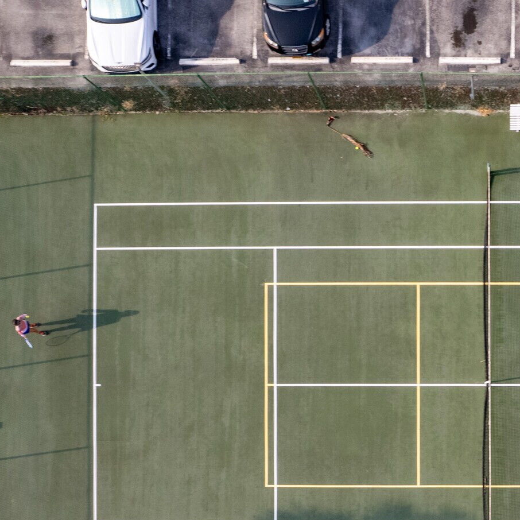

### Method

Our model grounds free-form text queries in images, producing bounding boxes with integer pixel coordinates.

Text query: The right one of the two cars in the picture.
[263,0,327,59]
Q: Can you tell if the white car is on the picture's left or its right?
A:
left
